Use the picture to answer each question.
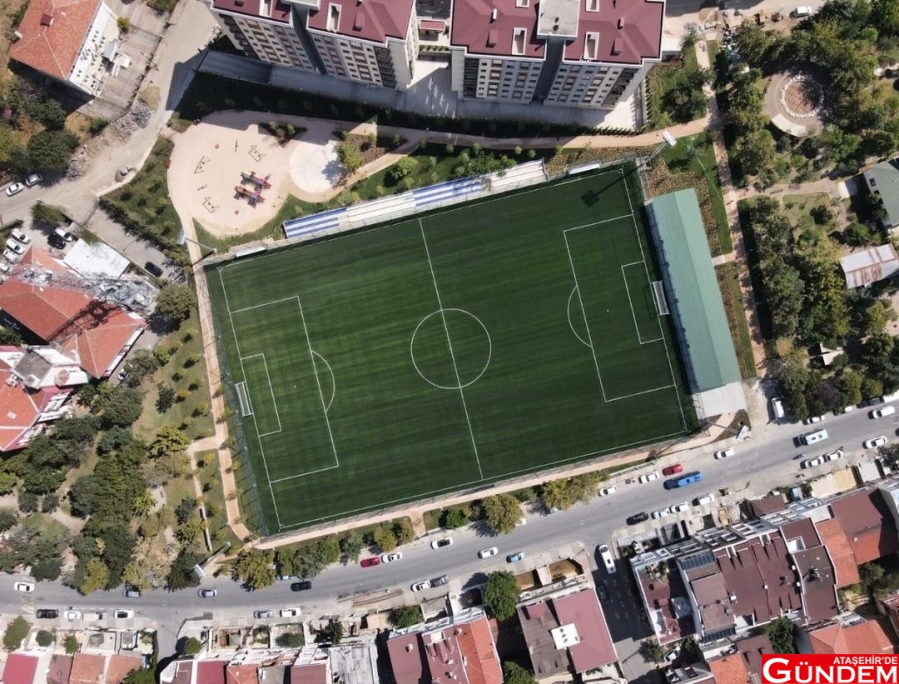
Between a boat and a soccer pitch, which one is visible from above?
soccer pitch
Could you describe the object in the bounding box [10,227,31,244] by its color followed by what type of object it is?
white car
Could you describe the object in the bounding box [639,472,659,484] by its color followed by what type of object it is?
white vehicle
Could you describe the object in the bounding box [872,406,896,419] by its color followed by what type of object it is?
white vehicle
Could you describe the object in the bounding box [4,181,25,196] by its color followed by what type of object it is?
white car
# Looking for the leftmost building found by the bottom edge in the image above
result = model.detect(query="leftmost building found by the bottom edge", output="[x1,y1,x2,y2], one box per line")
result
[3,641,57,684]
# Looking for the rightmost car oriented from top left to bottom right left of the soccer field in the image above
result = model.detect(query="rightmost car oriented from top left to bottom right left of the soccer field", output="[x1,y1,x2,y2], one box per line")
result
[143,261,163,277]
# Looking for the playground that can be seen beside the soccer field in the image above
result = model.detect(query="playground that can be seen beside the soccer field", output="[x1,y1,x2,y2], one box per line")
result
[165,110,355,229]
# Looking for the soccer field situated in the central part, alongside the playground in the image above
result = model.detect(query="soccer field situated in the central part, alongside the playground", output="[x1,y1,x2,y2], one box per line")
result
[202,161,701,535]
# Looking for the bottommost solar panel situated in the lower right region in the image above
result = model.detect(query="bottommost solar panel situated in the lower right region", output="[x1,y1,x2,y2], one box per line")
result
[702,629,736,647]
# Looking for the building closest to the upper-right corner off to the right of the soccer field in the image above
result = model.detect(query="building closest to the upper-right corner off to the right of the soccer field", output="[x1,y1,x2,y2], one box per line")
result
[849,149,899,228]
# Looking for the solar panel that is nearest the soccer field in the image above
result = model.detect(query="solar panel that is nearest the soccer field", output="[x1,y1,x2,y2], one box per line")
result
[680,553,715,573]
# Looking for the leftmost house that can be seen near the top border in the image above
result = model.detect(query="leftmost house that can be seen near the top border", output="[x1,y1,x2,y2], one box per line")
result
[9,0,135,96]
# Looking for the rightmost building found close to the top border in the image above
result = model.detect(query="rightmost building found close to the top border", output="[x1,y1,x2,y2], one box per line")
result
[449,0,667,112]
